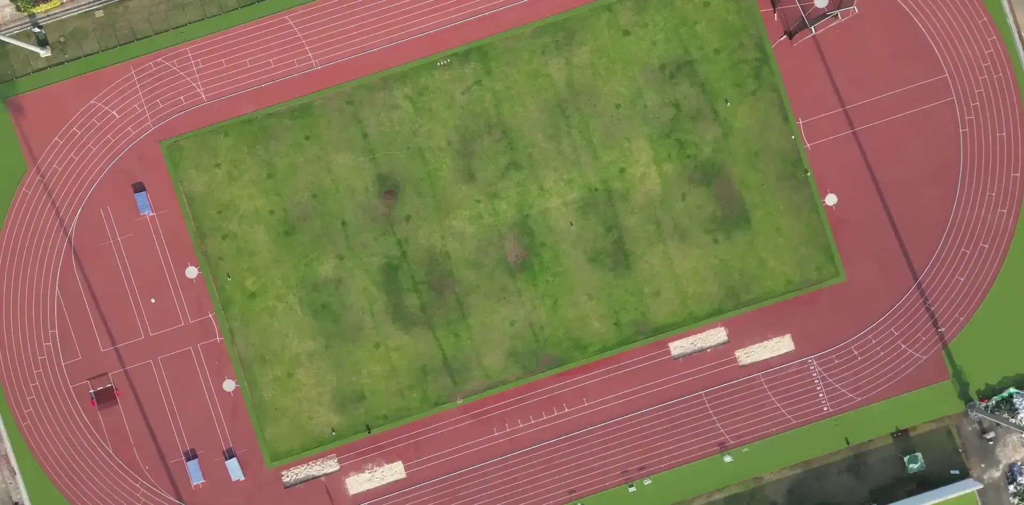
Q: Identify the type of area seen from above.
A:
sports ground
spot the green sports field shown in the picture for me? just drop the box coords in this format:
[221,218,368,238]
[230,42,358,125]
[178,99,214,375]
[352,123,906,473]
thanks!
[159,0,847,469]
